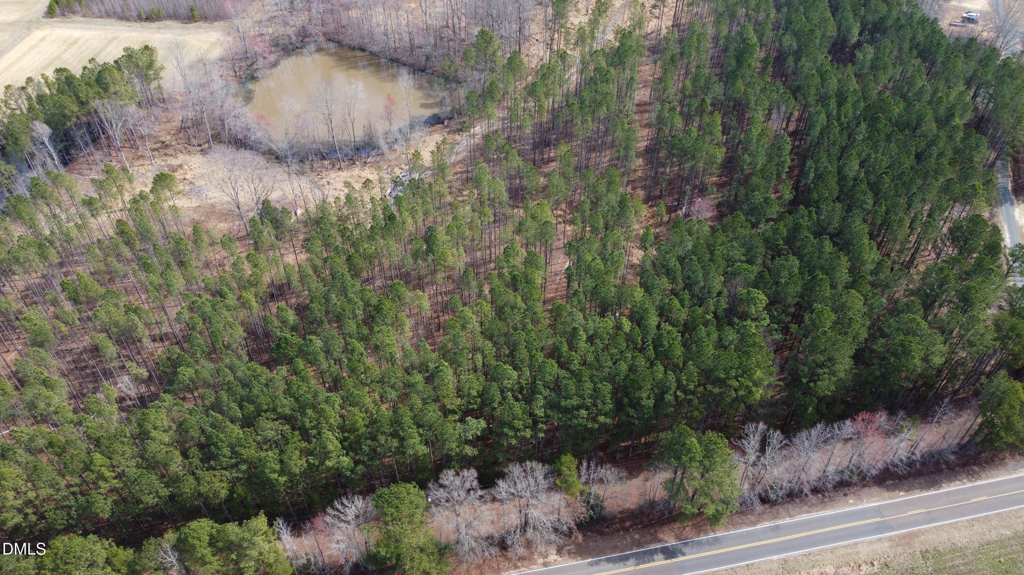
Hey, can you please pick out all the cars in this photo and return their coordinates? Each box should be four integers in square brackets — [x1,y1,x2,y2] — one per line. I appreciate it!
[963,13,982,21]
[963,8,977,15]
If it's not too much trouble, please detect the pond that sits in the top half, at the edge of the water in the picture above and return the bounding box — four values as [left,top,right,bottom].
[243,44,454,165]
